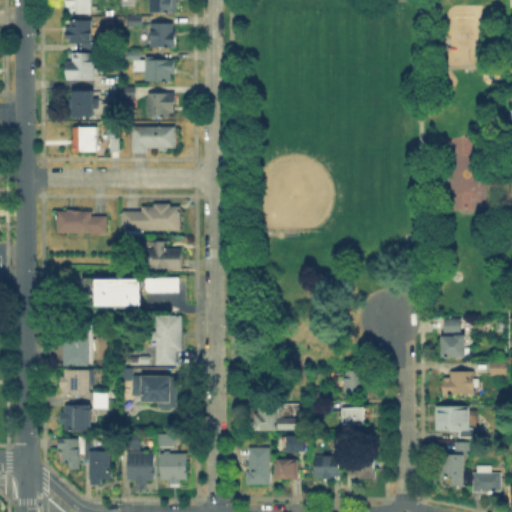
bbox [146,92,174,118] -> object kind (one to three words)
house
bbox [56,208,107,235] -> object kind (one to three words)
house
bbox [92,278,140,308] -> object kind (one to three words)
building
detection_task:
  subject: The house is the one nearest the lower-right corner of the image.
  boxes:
[474,465,502,496]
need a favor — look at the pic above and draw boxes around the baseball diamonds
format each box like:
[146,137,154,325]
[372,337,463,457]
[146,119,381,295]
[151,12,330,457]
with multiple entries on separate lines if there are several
[239,0,419,282]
